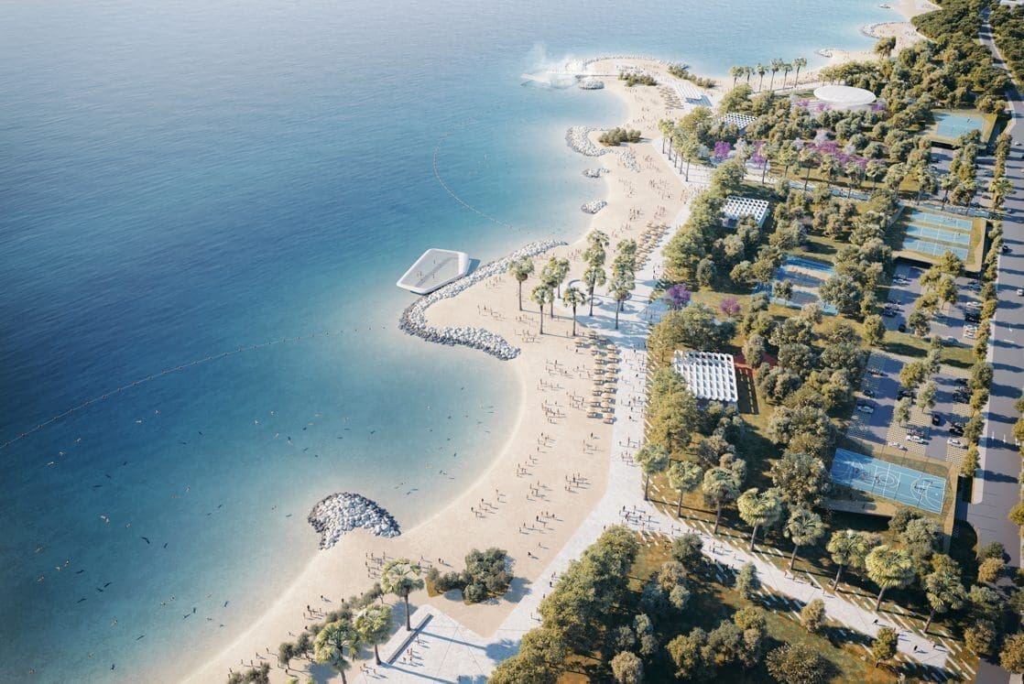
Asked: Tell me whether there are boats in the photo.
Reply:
No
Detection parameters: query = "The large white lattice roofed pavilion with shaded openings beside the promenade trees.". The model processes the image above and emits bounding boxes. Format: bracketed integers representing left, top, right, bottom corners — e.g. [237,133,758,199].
[673,352,738,419]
